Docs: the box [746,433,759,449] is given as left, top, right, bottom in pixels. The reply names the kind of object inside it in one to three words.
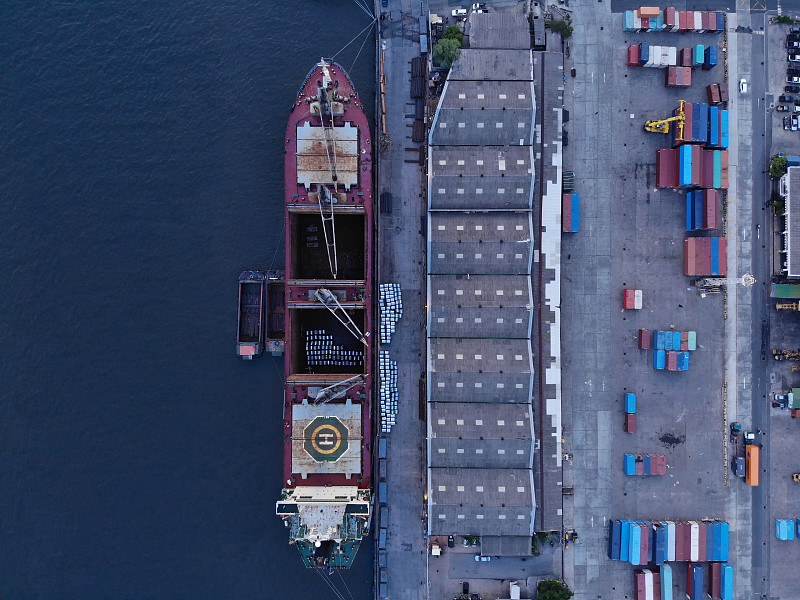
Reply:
vehicle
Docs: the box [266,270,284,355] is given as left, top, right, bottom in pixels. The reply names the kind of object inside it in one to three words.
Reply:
ship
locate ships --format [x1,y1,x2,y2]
[266,270,284,355]
[237,270,264,358]
[276,56,374,577]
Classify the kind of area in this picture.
port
